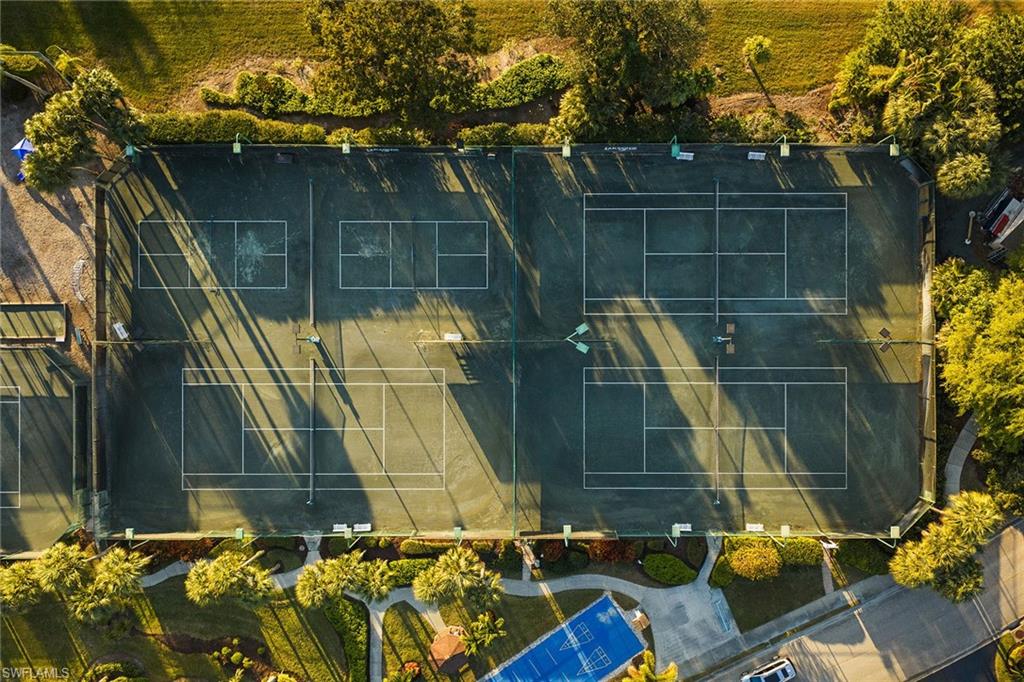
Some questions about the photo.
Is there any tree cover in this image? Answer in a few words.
Yes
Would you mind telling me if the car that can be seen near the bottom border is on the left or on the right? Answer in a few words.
right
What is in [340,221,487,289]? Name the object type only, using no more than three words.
sports court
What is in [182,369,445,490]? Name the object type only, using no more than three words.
tennis court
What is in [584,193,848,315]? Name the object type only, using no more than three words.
tennis court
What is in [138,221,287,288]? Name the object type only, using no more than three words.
sports court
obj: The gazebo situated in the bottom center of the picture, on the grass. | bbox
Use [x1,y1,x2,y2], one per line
[427,622,474,674]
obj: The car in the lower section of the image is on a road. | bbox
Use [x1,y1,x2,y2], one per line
[743,657,797,682]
